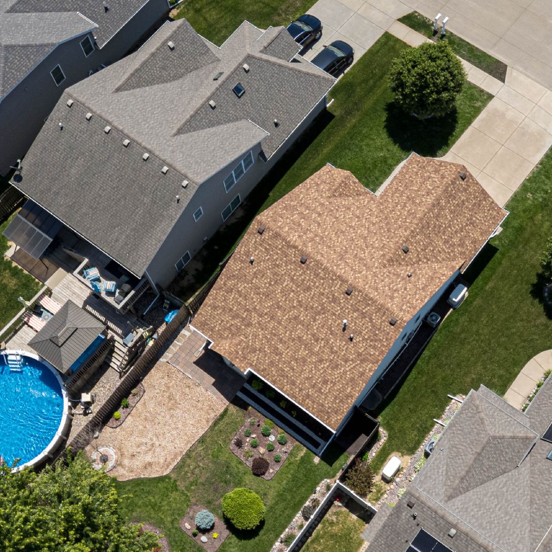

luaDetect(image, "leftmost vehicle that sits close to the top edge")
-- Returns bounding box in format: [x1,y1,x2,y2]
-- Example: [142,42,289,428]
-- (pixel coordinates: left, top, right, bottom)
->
[288,13,323,59]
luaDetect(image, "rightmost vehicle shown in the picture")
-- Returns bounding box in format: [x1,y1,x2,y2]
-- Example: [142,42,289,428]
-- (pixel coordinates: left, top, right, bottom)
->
[308,36,355,79]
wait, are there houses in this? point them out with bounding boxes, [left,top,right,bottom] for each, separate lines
[189,154,510,444]
[362,367,552,552]
[6,20,341,328]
